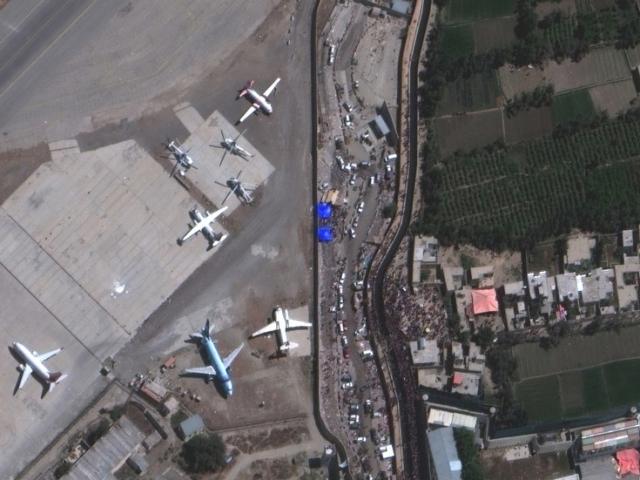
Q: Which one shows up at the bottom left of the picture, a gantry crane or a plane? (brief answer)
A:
plane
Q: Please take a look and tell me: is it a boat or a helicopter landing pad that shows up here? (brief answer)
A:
helicopter landing pad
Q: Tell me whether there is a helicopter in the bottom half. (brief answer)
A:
No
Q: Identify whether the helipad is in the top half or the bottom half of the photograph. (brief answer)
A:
top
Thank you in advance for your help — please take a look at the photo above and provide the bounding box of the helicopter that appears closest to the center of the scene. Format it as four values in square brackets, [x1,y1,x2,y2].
[218,169,254,202]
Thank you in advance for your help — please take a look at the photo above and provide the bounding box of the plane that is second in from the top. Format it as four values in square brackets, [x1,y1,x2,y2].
[179,209,234,244]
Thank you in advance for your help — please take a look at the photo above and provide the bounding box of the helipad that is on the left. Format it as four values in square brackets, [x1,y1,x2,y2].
[172,101,275,214]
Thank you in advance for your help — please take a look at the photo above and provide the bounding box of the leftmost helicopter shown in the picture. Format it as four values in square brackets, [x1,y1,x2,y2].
[168,138,203,174]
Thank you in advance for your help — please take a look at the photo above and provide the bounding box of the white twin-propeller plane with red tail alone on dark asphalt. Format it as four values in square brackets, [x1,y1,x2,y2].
[236,79,282,119]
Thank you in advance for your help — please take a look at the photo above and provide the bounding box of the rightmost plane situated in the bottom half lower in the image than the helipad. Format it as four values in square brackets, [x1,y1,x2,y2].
[252,308,314,349]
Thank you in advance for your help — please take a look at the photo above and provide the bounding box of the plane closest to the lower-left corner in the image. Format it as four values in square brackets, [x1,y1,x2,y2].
[13,342,65,389]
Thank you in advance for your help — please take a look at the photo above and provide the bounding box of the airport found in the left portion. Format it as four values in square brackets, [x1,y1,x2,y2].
[0,0,321,480]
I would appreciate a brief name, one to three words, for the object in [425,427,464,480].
building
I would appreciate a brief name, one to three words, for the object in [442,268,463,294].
house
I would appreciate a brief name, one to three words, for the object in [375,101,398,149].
shed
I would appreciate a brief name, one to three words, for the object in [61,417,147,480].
hangar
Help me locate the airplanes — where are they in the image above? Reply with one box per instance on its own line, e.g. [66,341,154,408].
[236,79,282,119]
[182,325,248,396]
[252,308,314,349]
[179,209,234,244]
[13,342,65,389]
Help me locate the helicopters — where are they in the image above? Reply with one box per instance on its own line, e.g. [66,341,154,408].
[214,127,256,159]
[218,169,254,202]
[168,138,203,174]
